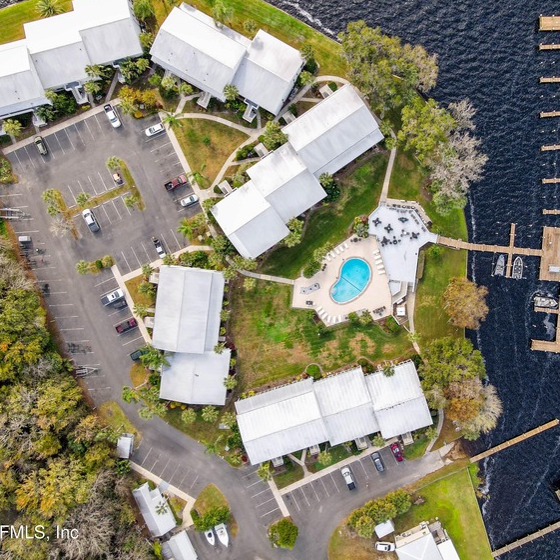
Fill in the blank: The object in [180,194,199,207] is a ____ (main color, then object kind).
white vehicle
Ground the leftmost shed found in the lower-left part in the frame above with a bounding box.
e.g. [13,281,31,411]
[116,431,136,458]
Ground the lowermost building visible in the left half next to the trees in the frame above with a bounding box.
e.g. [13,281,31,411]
[162,526,205,560]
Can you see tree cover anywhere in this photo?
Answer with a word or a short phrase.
Yes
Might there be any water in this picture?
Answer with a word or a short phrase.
Yes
